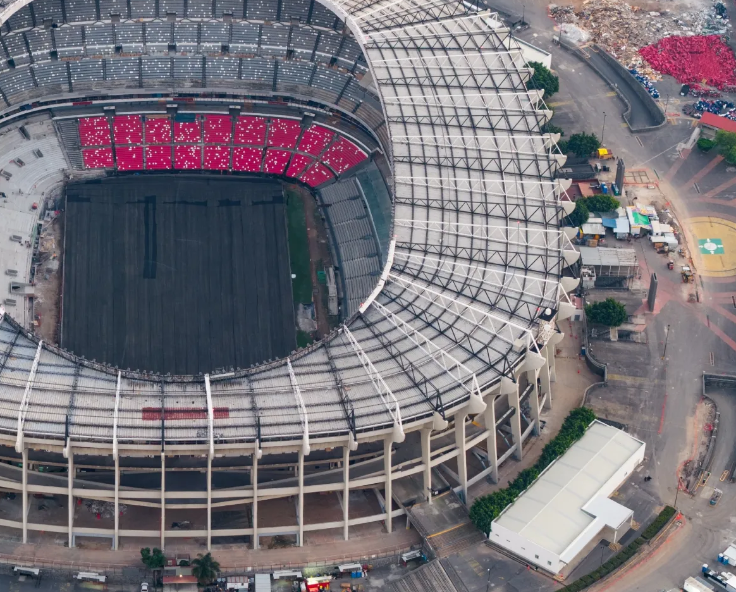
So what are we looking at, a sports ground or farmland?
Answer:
sports ground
